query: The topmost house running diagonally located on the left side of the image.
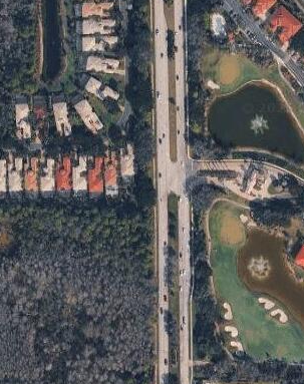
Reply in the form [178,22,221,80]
[77,70,119,106]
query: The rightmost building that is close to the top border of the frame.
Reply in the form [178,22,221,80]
[267,5,304,44]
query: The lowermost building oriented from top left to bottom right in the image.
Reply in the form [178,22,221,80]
[70,92,104,135]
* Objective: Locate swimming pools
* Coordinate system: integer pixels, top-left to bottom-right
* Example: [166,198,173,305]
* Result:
[211,15,225,37]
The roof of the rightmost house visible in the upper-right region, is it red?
Yes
